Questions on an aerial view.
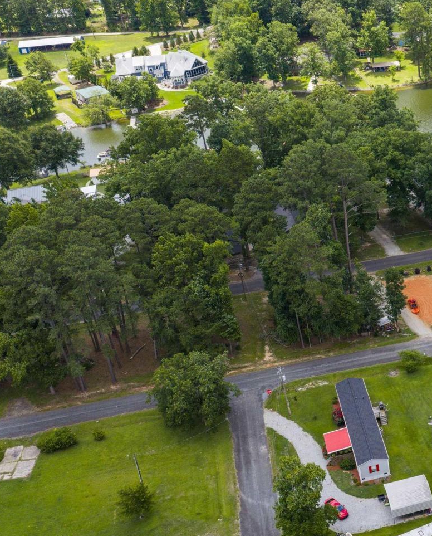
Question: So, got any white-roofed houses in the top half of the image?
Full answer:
Yes, a white-roofed house is visible in the top half of the image.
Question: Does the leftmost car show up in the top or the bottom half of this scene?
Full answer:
The bottom half of the photo is where the leftmost car is.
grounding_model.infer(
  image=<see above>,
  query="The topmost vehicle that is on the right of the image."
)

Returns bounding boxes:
[406,298,421,316]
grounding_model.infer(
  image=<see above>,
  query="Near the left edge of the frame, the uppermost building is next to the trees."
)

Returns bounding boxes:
[18,34,78,55]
